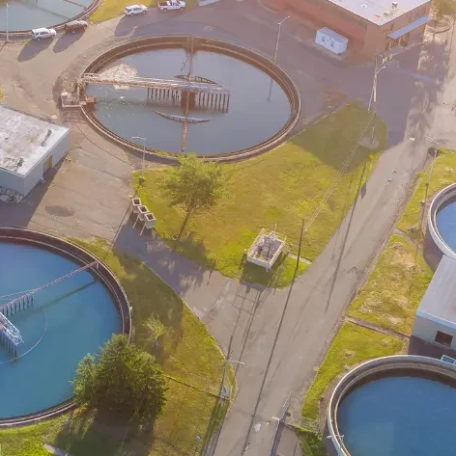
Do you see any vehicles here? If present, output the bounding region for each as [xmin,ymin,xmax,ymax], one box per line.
[31,26,57,41]
[157,0,186,10]
[123,2,150,16]
[64,17,91,32]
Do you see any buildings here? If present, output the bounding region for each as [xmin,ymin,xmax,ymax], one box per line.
[0,104,71,194]
[411,255,456,349]
[284,0,436,60]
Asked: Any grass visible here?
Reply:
Yes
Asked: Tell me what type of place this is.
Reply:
industrial area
